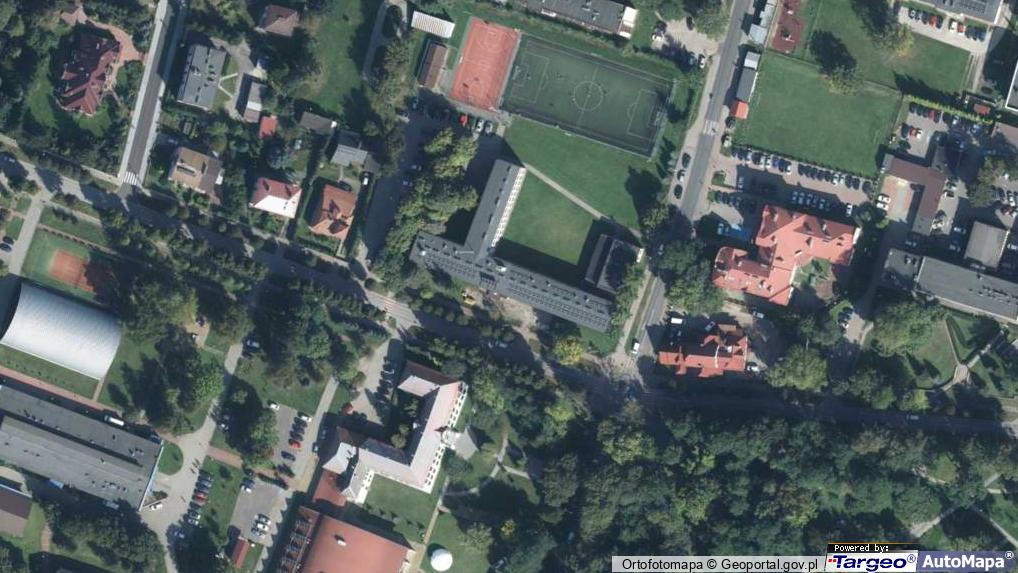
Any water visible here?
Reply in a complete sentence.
No, the picture contains no water.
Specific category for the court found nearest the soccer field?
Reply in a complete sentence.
The court found nearest the soccer field is a basketball court.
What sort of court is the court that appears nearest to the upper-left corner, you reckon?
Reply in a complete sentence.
Specifically, the court that appears nearest to the upper-left corner is a tennis court.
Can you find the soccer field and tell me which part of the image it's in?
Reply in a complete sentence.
The soccer field sits in the top section of the image.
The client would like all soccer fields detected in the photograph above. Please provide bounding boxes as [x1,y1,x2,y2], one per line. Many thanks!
[497,27,680,156]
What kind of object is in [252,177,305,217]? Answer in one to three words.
house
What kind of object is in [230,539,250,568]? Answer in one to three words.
shed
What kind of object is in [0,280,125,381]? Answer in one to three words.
building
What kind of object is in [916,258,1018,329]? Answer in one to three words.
building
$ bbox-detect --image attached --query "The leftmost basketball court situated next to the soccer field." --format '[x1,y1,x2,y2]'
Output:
[444,14,523,112]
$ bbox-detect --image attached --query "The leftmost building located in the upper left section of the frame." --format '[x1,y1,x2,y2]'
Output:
[56,36,124,113]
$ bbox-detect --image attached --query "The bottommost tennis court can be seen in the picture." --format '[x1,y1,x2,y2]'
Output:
[20,228,124,309]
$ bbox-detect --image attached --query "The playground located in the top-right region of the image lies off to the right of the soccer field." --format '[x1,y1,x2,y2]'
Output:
[771,0,804,54]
